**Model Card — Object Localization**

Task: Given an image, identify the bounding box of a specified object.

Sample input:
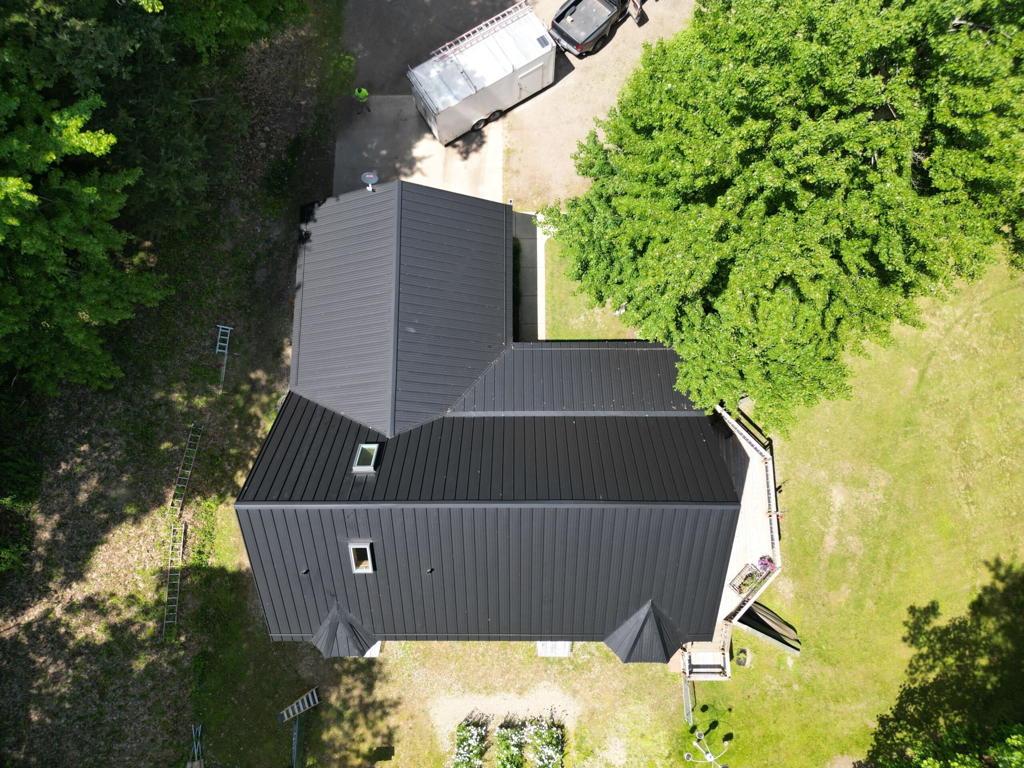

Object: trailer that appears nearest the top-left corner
[406,7,560,144]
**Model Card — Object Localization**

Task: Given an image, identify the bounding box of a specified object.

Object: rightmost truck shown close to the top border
[549,0,644,58]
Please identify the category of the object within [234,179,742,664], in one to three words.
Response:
house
